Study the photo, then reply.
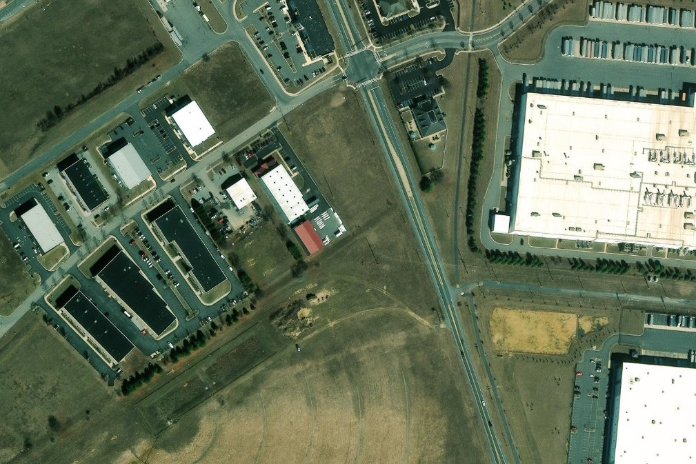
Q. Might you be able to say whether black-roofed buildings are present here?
Yes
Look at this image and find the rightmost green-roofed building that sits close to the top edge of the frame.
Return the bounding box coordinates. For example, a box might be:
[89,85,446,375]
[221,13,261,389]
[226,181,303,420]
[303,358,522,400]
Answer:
[375,0,409,18]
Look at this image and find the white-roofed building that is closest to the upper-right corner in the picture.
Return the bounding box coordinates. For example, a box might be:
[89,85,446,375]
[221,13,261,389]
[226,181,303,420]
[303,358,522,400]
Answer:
[509,93,696,250]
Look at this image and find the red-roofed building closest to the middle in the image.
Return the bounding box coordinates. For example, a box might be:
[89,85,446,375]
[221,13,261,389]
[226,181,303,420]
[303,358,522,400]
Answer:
[292,221,323,255]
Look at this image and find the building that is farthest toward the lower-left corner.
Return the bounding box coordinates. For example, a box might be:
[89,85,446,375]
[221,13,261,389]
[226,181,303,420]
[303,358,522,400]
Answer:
[60,291,135,366]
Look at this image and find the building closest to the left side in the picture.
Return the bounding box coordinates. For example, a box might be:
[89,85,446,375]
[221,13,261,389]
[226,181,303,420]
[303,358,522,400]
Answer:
[17,205,64,254]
